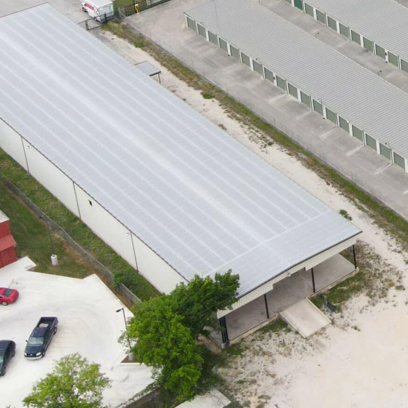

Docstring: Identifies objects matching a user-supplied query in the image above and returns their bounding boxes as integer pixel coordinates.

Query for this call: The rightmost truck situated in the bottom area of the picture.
[26,315,58,353]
